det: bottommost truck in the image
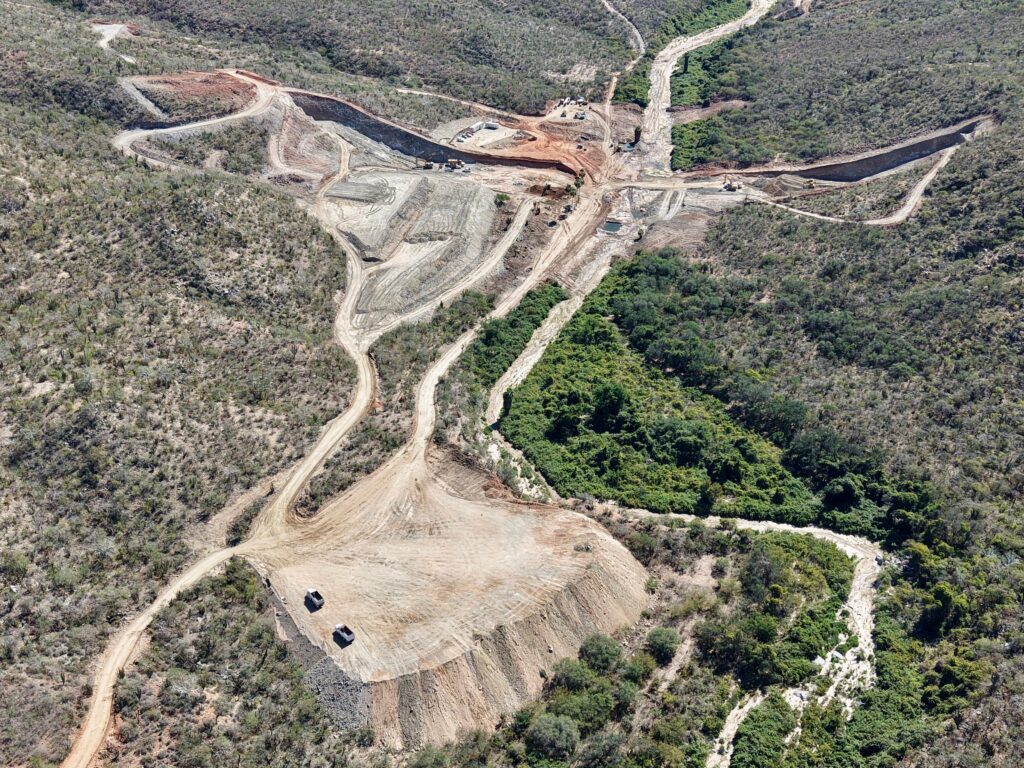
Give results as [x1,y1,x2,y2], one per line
[331,624,352,647]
